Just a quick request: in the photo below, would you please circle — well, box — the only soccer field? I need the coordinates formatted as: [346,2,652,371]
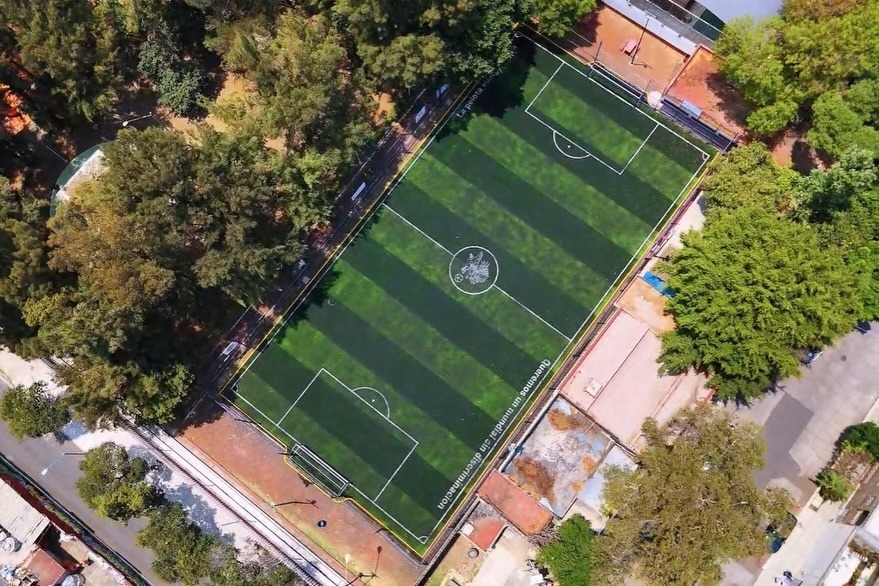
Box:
[216,22,715,560]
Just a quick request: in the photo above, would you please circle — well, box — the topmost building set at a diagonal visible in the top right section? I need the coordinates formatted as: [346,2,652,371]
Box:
[597,0,696,57]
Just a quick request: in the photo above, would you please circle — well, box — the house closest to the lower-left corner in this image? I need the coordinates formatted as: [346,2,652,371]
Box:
[14,547,76,586]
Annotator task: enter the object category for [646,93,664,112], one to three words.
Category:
umbrella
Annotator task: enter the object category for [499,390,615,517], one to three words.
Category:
house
